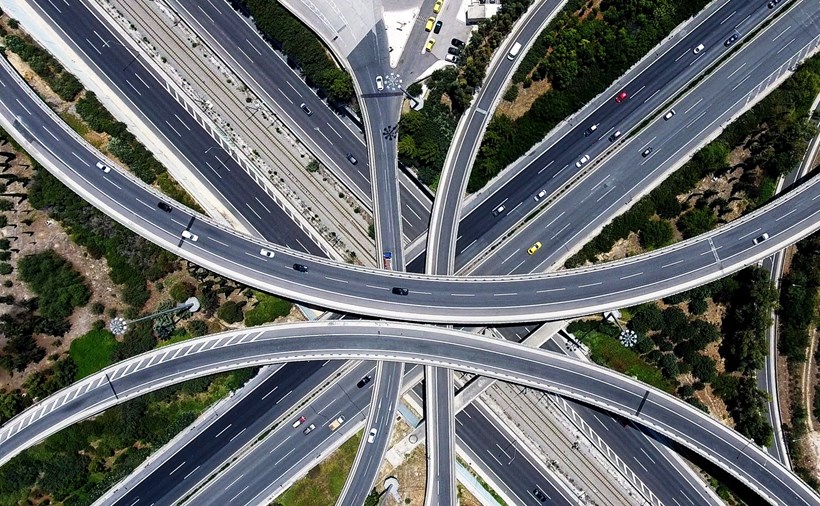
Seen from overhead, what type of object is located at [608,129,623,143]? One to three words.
vehicle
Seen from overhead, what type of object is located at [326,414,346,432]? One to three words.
vehicle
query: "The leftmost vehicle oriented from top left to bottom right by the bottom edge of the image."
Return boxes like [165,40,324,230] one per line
[533,488,547,502]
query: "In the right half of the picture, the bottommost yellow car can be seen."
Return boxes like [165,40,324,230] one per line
[527,241,541,255]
